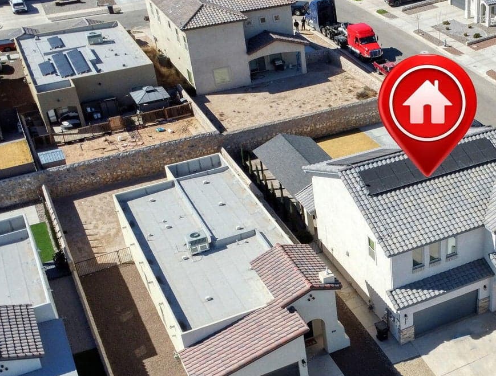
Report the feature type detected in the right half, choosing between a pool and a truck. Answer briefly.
truck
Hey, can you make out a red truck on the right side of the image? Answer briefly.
Yes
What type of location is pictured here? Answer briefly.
residential area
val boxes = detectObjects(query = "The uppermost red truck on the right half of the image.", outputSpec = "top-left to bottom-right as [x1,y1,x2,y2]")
[336,15,383,61]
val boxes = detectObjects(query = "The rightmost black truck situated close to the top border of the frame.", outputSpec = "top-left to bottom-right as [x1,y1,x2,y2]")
[305,0,346,37]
